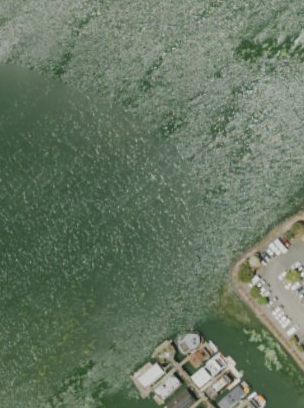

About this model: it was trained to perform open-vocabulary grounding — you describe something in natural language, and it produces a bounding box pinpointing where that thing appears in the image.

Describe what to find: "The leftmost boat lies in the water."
[180,332,204,354]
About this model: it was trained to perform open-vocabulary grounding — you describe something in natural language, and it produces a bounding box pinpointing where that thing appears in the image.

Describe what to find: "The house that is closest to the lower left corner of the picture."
[130,360,164,396]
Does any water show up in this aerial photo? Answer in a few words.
Yes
